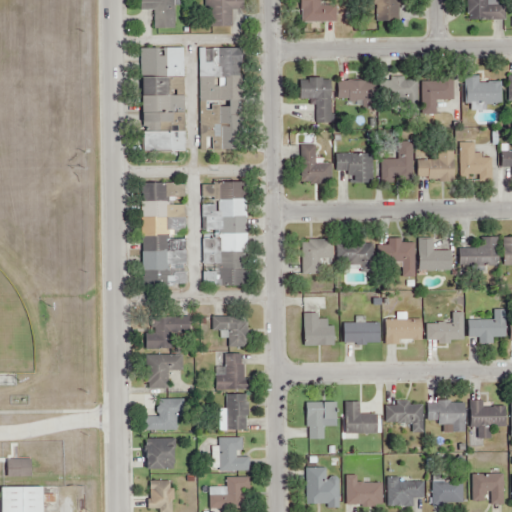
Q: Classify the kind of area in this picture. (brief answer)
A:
residential area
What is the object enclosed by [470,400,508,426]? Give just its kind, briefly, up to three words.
house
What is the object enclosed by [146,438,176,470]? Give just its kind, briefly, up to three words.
house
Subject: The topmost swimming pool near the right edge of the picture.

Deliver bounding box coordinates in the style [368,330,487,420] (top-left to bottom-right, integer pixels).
[474,110,498,124]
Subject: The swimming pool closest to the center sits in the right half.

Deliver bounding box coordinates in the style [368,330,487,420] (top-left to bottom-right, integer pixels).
[344,270,367,284]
